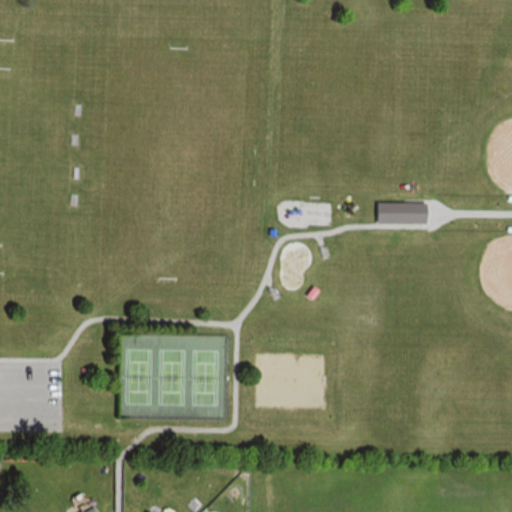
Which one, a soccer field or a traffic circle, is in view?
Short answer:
soccer field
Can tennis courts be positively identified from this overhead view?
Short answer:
Yes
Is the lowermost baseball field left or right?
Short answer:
right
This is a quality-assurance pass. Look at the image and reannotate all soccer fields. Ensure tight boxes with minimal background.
[0,41,68,273]
[106,50,244,279]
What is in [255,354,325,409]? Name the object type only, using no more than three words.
sports court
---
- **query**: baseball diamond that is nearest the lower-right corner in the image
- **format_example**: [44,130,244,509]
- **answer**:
[480,234,512,314]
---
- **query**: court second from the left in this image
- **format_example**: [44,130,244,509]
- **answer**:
[157,350,187,406]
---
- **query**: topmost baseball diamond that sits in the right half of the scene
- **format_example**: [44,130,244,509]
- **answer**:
[487,118,512,193]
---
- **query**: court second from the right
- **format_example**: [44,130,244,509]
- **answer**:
[191,350,220,406]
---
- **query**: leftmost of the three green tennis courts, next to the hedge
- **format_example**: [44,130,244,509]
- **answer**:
[126,349,154,406]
